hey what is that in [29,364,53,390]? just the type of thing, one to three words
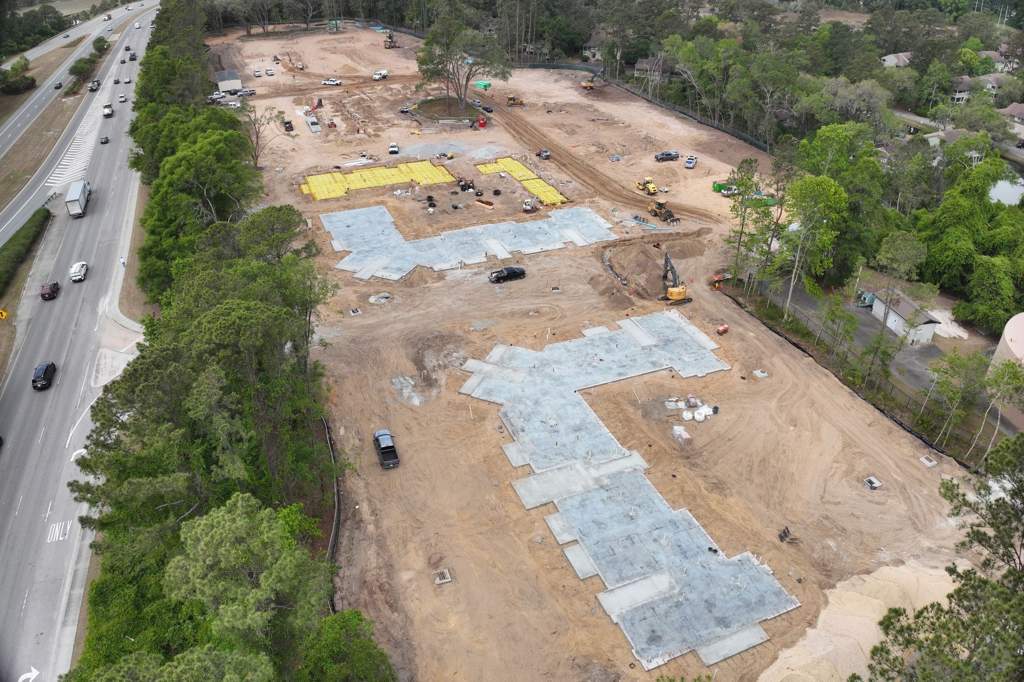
car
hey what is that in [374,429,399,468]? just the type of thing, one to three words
truck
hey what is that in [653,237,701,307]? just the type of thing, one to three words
work vehicle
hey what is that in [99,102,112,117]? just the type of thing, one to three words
vehicle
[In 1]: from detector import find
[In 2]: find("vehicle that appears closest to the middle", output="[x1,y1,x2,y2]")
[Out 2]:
[489,265,526,281]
